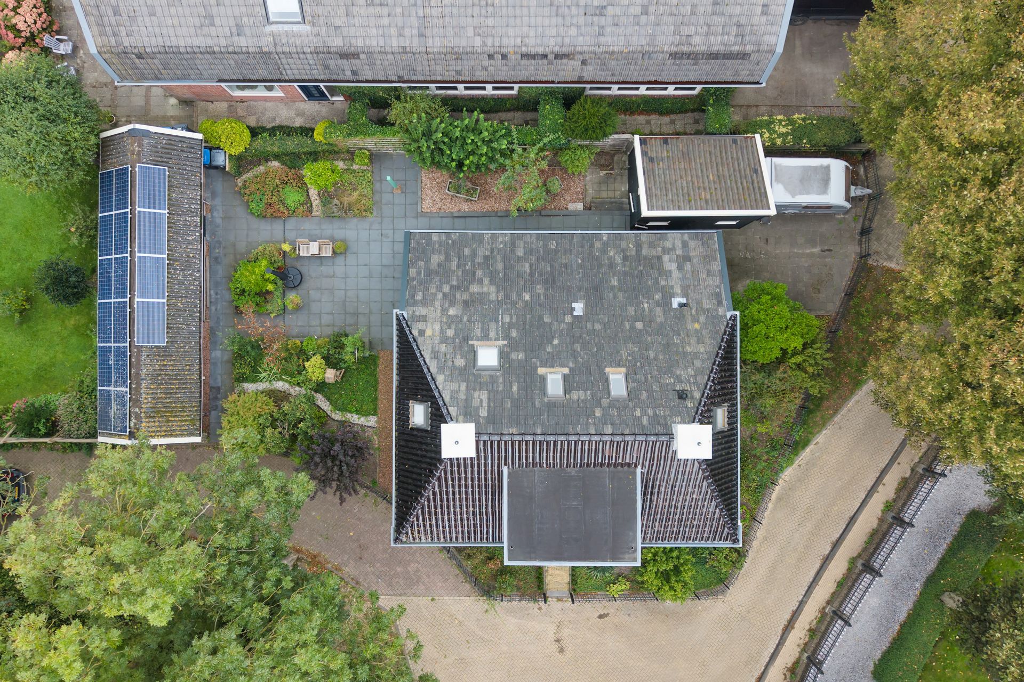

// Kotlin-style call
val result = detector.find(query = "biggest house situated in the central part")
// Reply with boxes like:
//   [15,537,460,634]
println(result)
[392,227,742,566]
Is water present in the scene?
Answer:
No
